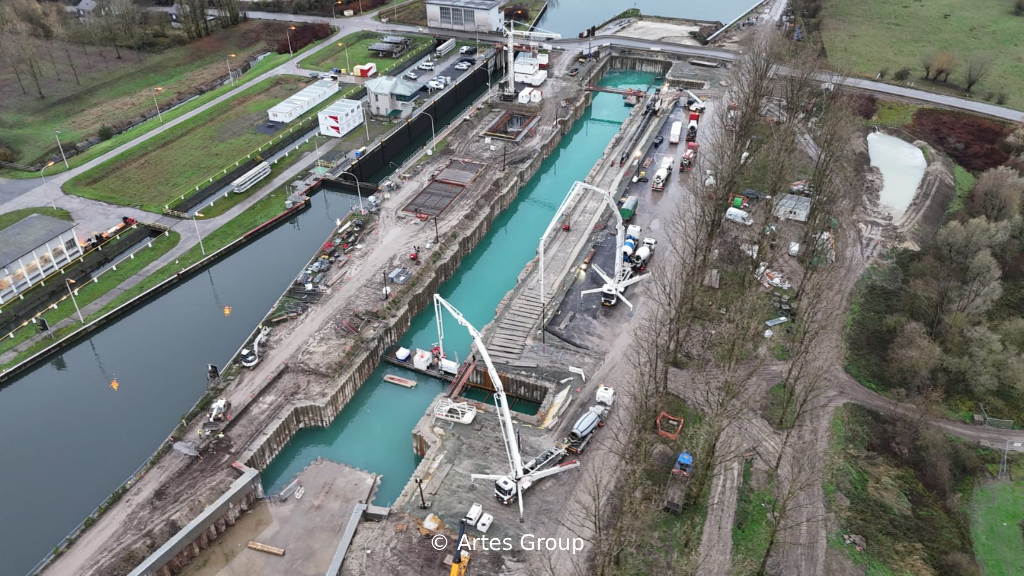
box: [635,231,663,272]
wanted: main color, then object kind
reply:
white truck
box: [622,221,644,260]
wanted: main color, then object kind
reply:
white truck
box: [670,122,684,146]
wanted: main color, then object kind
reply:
white vehicle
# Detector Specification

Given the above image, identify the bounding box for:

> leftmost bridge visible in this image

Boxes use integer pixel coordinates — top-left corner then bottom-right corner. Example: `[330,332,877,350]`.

[140,207,189,235]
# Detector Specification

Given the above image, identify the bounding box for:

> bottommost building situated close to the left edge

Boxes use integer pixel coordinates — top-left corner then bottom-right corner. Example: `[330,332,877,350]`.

[0,215,88,311]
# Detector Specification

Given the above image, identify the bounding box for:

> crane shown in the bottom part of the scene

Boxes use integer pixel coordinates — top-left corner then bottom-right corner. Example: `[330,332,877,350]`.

[449,516,471,576]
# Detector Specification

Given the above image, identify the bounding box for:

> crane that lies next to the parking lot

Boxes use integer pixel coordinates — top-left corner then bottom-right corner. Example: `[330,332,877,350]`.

[496,7,567,104]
